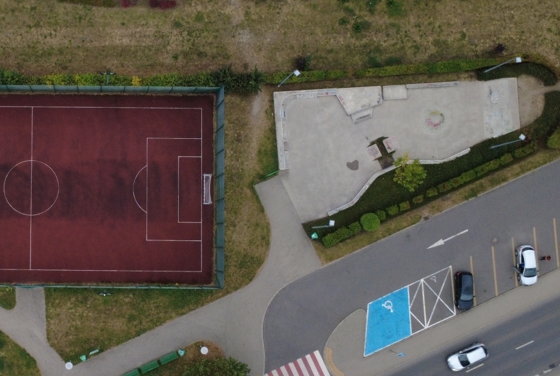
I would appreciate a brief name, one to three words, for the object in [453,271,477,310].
car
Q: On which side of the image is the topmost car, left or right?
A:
right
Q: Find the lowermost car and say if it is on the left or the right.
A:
right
